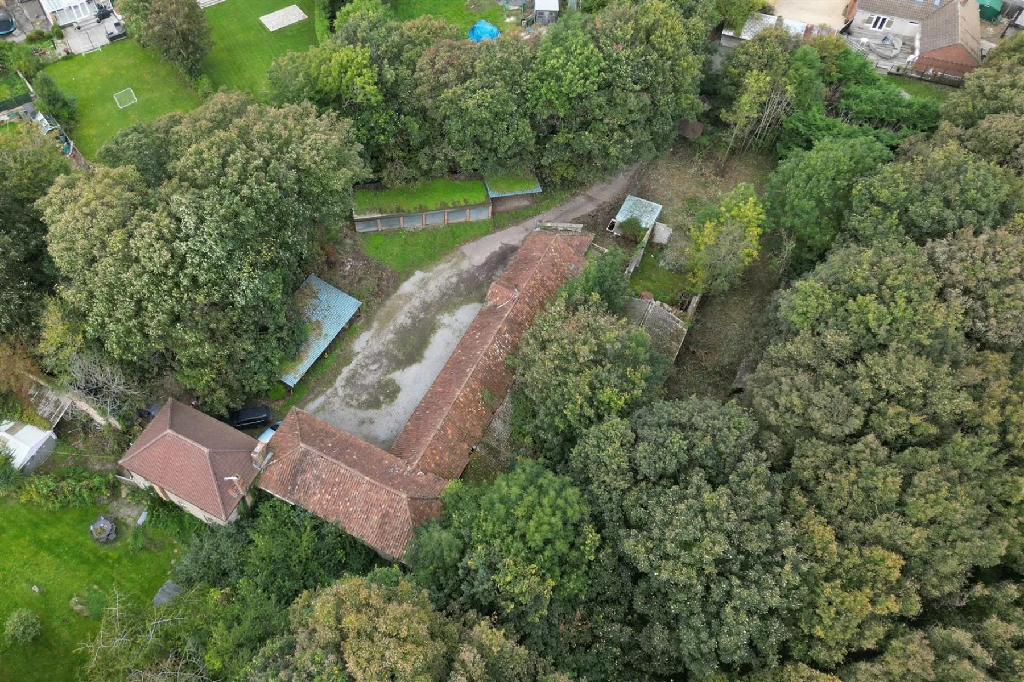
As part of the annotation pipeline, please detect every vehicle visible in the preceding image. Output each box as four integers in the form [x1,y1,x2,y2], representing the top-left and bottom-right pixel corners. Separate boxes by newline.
[254,419,286,447]
[226,403,274,431]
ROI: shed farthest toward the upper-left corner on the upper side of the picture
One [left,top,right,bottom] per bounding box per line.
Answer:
[22,0,51,31]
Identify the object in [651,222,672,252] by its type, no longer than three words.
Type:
shed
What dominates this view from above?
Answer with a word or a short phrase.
trees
